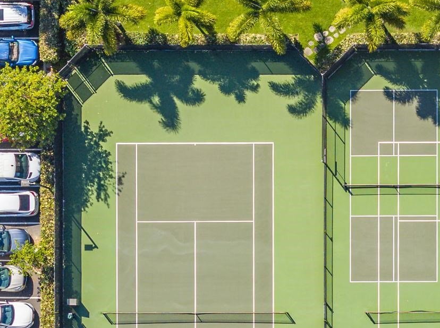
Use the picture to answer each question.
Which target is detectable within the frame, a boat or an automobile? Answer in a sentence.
Of the two, only an automobile appears.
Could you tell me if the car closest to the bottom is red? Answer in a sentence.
No, the color of the car closest to the bottom is white.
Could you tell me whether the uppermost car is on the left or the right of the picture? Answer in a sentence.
It is on the left.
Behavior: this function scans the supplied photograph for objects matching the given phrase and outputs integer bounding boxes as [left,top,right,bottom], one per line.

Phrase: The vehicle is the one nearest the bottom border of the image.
[0,299,36,328]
